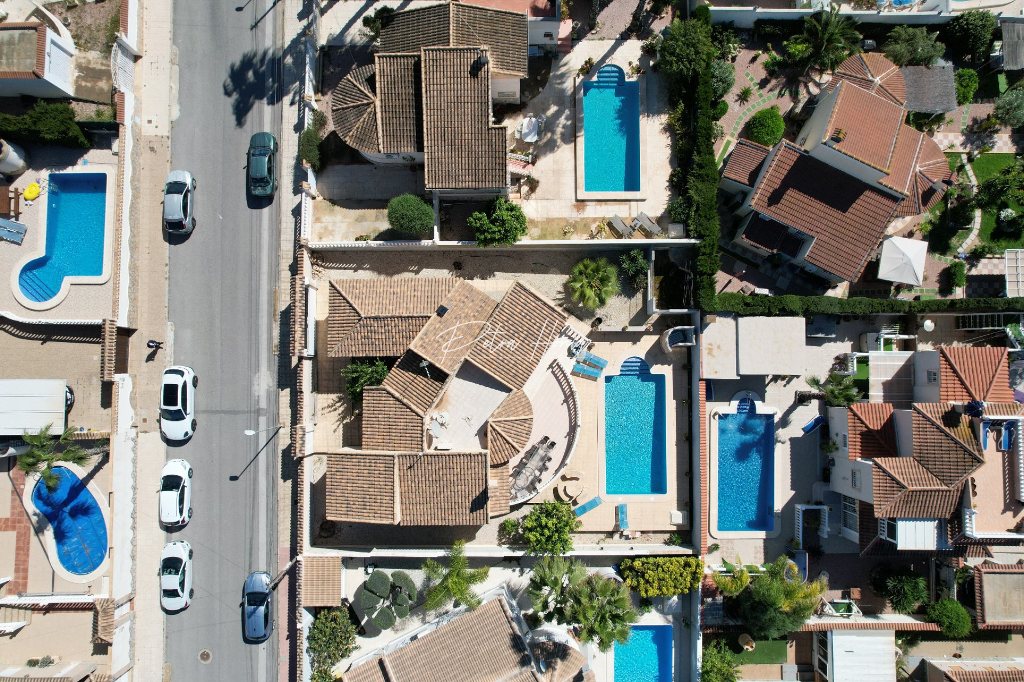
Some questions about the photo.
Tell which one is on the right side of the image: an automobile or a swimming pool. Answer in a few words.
swimming pool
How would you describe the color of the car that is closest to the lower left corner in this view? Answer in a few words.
white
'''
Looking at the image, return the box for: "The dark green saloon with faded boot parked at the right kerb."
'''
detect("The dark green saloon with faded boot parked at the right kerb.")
[246,133,280,197]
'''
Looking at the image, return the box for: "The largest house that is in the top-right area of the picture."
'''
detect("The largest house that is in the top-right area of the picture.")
[716,50,953,283]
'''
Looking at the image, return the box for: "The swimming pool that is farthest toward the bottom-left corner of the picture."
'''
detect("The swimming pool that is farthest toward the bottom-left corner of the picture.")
[22,458,109,584]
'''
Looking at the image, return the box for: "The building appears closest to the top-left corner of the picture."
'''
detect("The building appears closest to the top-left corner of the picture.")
[0,22,70,90]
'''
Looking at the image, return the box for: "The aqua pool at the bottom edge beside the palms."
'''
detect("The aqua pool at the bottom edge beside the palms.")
[608,617,681,682]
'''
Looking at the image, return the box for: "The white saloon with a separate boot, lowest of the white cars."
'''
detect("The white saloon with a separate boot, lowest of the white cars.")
[158,540,196,610]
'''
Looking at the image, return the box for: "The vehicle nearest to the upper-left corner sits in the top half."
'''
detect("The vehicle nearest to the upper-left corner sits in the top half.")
[162,172,198,233]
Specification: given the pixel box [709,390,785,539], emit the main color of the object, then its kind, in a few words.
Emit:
blue swimming pool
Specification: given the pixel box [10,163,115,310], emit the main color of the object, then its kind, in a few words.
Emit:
blue swimming pool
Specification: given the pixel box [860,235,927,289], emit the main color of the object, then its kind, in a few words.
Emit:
white gazebo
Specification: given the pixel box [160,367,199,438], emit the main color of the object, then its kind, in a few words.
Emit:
white car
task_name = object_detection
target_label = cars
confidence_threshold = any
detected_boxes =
[158,459,196,525]
[241,570,278,640]
[160,367,199,438]
[246,133,280,197]
[162,172,198,233]
[158,540,196,610]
